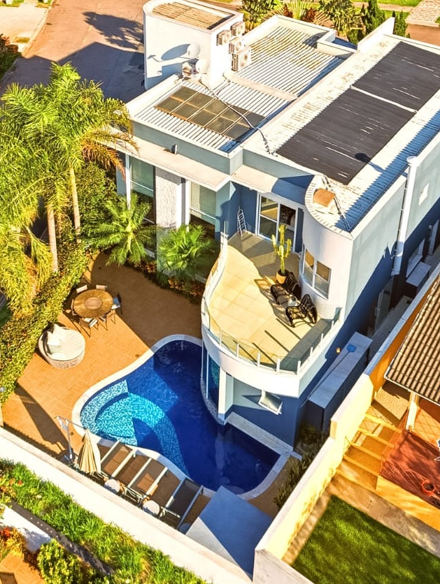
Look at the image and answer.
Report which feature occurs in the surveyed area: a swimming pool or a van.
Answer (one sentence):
There is a swimming pool in the scene.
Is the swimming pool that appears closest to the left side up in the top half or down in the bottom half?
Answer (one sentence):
The swimming pool that appears closest to the left side sits in the bottom half of the picture.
